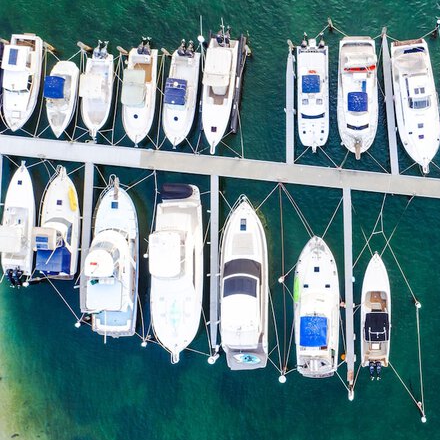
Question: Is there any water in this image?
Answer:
Yes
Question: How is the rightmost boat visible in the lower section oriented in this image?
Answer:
up and down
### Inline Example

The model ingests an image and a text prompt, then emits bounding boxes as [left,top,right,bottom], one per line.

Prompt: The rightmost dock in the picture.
[380,33,401,174]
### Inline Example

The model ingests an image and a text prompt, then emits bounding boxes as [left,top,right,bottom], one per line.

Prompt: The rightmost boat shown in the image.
[390,39,440,174]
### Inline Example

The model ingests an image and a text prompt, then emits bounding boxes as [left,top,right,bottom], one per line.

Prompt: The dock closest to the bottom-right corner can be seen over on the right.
[342,188,359,373]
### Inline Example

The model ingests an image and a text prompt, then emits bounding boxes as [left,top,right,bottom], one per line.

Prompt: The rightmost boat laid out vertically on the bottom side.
[359,250,393,374]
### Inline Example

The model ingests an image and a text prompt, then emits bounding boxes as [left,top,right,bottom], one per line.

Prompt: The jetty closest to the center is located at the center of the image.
[204,175,223,349]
